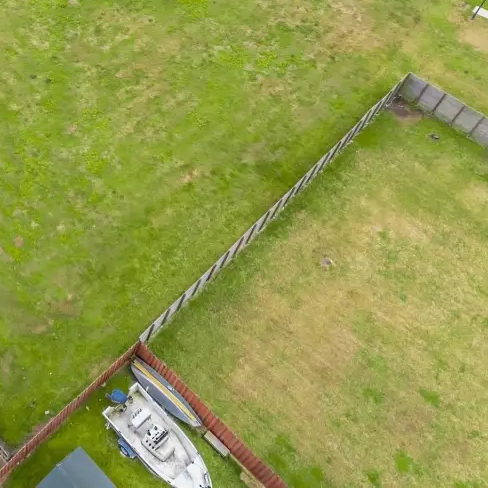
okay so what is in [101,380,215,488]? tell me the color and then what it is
white boat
